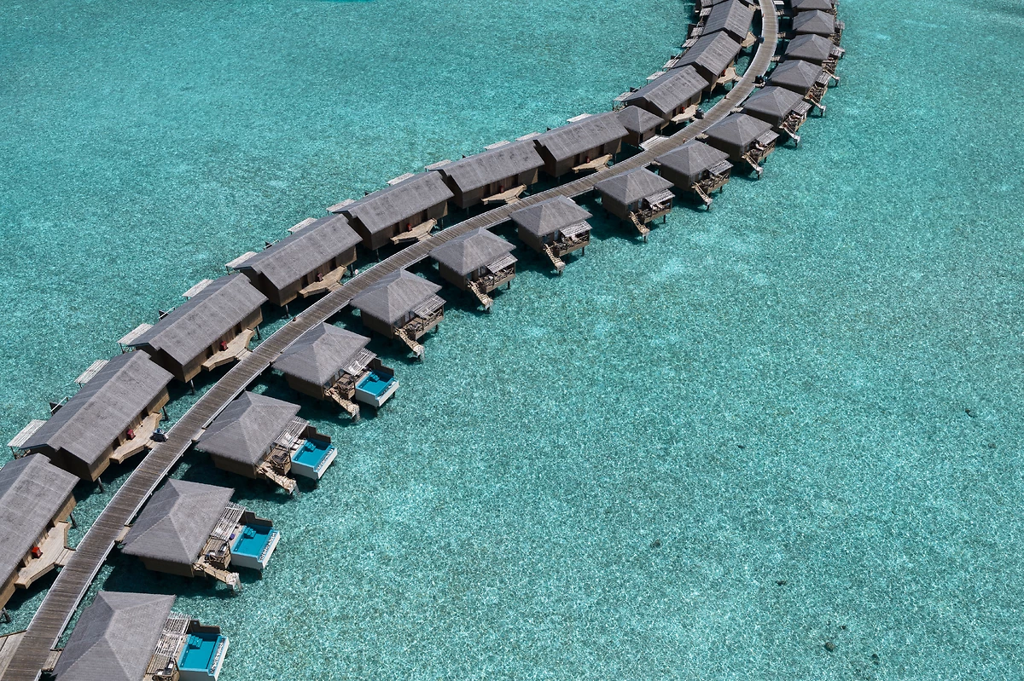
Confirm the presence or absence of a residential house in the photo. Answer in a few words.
Yes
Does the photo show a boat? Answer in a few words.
No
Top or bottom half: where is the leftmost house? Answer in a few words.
bottom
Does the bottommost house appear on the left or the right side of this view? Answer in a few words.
left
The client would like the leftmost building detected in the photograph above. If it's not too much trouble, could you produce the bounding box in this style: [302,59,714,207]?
[0,453,80,602]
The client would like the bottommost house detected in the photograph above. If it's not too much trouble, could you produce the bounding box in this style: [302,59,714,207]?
[55,591,226,681]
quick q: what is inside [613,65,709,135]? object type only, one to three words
house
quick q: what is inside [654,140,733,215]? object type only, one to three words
house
